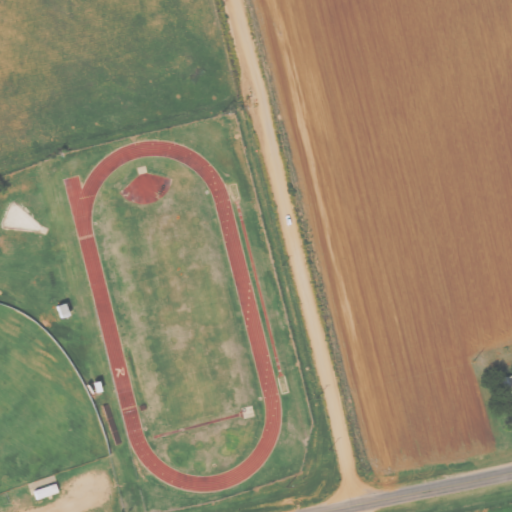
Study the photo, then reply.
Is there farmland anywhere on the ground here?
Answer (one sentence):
Yes, there is farmland in the image.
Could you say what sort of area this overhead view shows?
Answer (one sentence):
It's a sports ground.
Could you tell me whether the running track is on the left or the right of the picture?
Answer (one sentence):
The running track appears in the left half of the scene.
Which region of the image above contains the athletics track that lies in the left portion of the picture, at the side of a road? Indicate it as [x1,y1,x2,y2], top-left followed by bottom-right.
[64,141,282,492]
